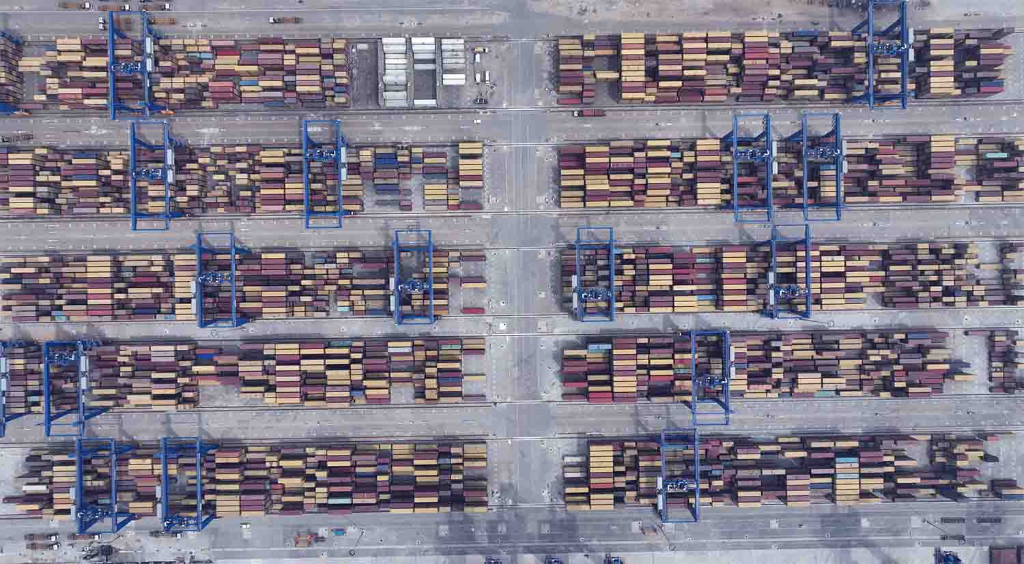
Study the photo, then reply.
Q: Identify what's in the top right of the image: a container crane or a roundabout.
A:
container crane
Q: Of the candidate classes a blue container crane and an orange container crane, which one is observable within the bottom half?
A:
blue container crane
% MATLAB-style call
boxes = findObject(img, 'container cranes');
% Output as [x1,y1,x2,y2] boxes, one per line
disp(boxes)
[155,436,220,534]
[650,429,701,522]
[42,338,109,437]
[129,120,191,230]
[679,330,736,426]
[388,229,440,325]
[570,227,616,322]
[848,0,914,110]
[70,436,140,533]
[107,11,173,120]
[190,231,253,328]
[755,224,813,319]
[0,339,35,436]
[302,120,354,228]
[719,113,778,221]
[785,112,848,220]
